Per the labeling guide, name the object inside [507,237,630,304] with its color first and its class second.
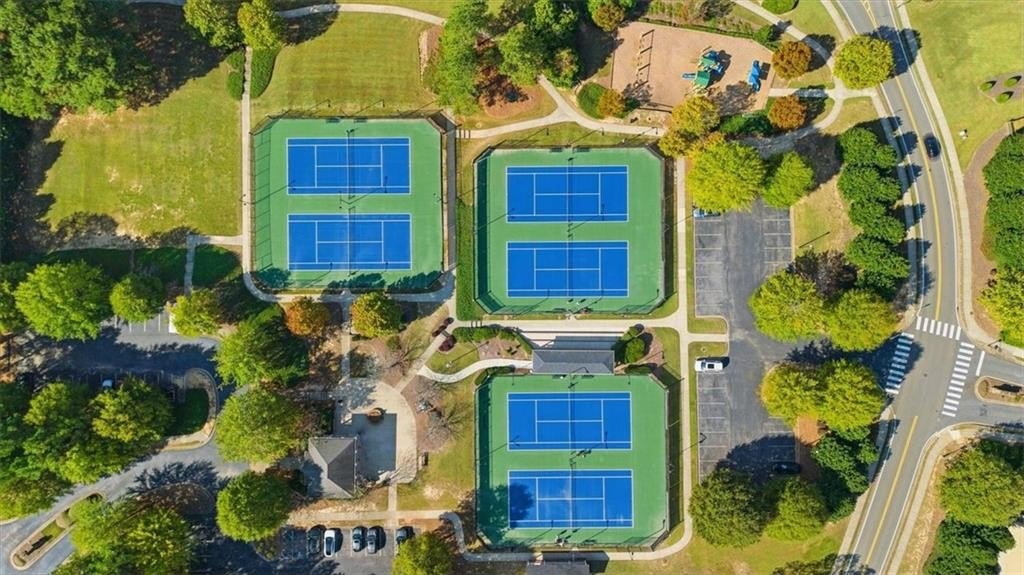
blue tennis court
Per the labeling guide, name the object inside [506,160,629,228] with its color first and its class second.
blue tennis court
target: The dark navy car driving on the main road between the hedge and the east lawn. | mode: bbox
[924,134,942,159]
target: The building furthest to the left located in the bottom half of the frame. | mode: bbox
[309,429,364,498]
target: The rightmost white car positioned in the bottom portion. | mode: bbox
[696,359,723,371]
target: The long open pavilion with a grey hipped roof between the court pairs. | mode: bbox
[532,347,615,374]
